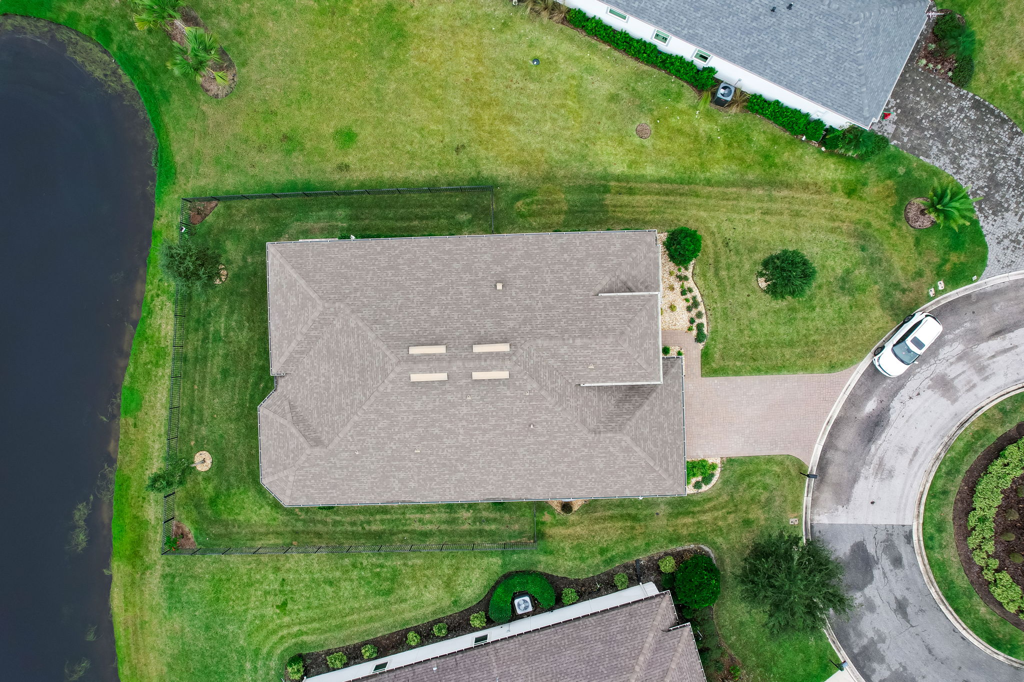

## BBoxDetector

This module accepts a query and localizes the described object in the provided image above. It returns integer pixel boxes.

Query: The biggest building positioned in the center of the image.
[258,230,687,507]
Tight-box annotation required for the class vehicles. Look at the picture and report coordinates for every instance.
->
[875,306,945,377]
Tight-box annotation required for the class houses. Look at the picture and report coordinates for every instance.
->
[555,0,933,133]
[258,230,687,507]
[305,582,706,682]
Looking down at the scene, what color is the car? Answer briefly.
white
